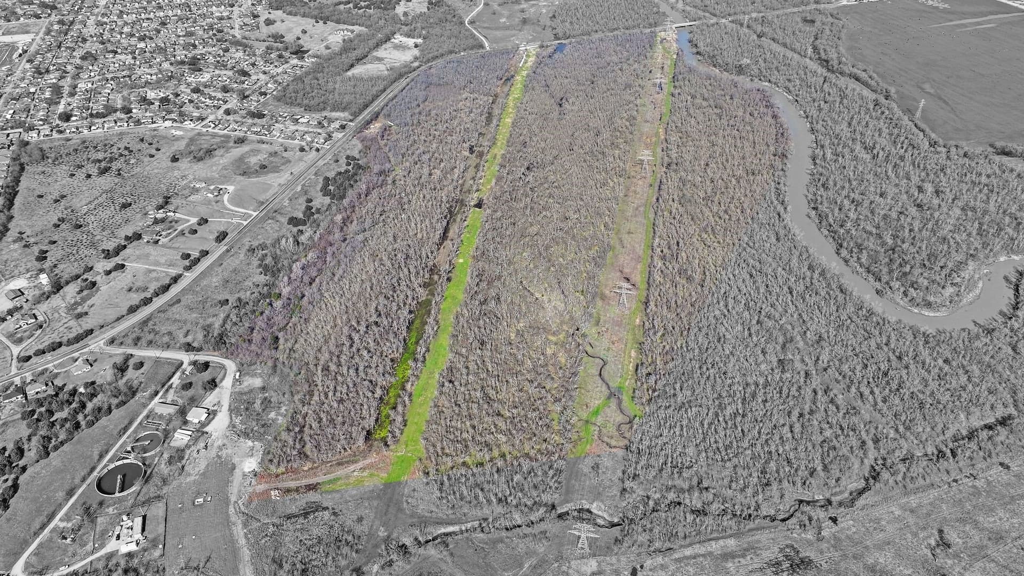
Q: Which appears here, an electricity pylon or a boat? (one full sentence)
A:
This aerial view contains an electricity pylon.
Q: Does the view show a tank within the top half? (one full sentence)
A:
No, no tank appears within the top half.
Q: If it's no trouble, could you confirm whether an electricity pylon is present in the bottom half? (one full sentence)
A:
Yes, I can see an electricity pylon in the bottom half.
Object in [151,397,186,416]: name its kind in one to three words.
building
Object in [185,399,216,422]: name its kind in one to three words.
building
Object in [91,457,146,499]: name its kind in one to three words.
storage tank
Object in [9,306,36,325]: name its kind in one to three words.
house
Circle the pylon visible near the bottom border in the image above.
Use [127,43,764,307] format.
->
[568,518,602,563]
